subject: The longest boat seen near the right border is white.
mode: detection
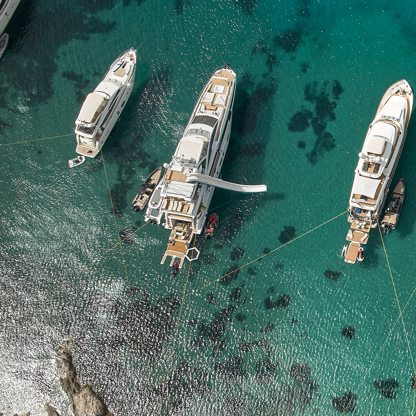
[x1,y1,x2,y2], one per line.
[347,79,412,233]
